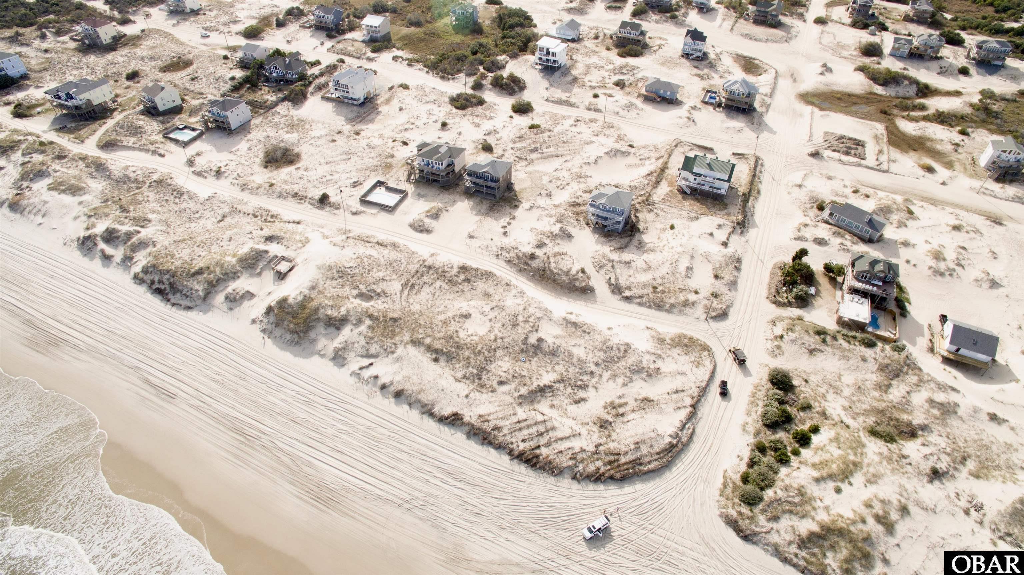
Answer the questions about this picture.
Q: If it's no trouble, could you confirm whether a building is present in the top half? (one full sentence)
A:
Yes, a building shows up in the top half.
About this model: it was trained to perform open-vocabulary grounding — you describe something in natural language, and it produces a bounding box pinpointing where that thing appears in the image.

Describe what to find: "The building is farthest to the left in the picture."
[0,47,30,78]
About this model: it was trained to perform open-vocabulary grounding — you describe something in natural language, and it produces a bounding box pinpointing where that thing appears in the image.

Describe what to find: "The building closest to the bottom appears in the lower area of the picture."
[931,320,1003,378]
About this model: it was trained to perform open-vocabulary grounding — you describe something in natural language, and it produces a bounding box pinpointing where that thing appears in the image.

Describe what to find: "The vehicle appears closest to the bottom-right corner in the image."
[936,310,950,327]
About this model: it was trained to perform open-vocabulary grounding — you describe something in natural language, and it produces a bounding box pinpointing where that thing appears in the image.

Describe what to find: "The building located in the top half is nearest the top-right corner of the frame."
[957,37,1012,67]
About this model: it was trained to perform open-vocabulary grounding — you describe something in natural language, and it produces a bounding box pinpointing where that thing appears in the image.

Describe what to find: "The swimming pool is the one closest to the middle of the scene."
[359,180,408,211]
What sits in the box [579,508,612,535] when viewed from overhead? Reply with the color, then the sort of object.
white car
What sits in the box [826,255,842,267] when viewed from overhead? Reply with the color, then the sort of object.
white vehicle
